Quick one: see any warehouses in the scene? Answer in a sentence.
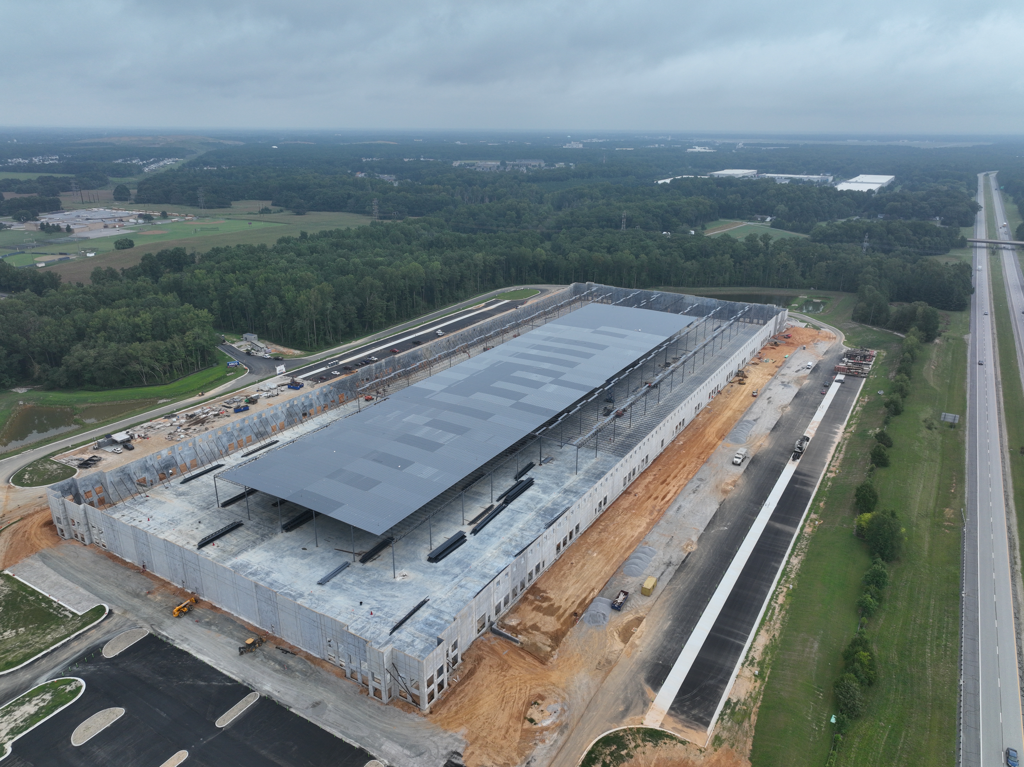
Yes, the frame does contain a warehouse.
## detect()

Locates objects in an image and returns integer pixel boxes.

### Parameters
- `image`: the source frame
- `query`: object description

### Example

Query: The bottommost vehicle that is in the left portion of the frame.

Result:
[234,636,270,658]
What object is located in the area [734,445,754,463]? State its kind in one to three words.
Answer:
vehicle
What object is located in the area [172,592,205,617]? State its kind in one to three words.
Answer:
work vehicle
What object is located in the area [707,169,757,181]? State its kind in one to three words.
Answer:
building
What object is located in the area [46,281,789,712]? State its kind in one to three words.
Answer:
warehouse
